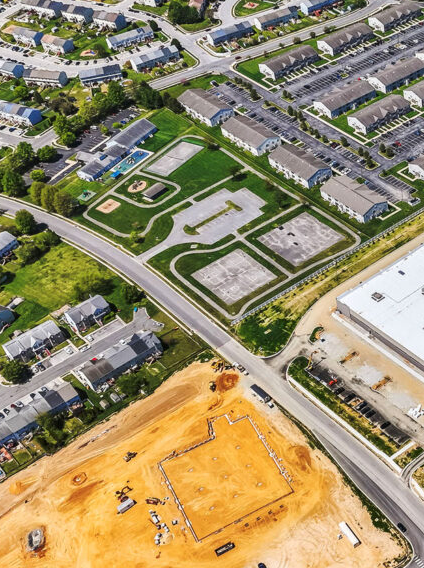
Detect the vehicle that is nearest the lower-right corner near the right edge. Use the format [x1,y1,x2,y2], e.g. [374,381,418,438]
[396,520,408,534]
